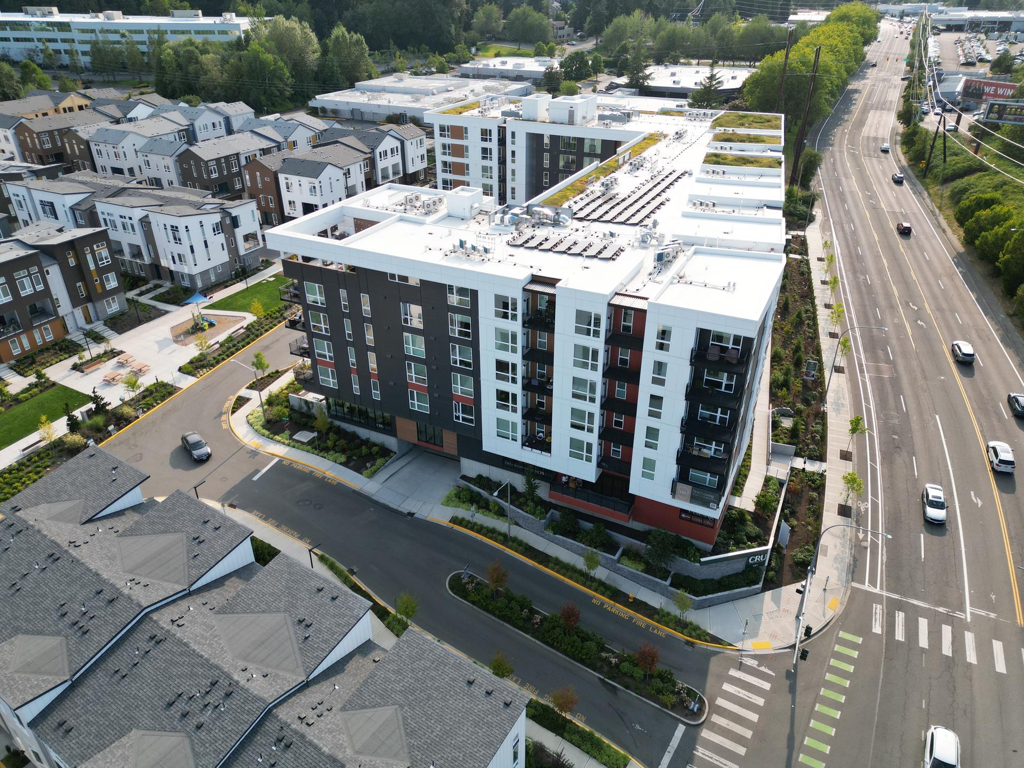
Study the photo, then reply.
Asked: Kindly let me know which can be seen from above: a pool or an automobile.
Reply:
automobile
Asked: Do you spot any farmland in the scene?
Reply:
No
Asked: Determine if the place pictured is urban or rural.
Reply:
urban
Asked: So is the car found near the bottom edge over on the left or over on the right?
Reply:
right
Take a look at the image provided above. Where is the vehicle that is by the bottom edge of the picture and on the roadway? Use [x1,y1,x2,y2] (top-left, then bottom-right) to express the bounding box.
[922,721,958,768]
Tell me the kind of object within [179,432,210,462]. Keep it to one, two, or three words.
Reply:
car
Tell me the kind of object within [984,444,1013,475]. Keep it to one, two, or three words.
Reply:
car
